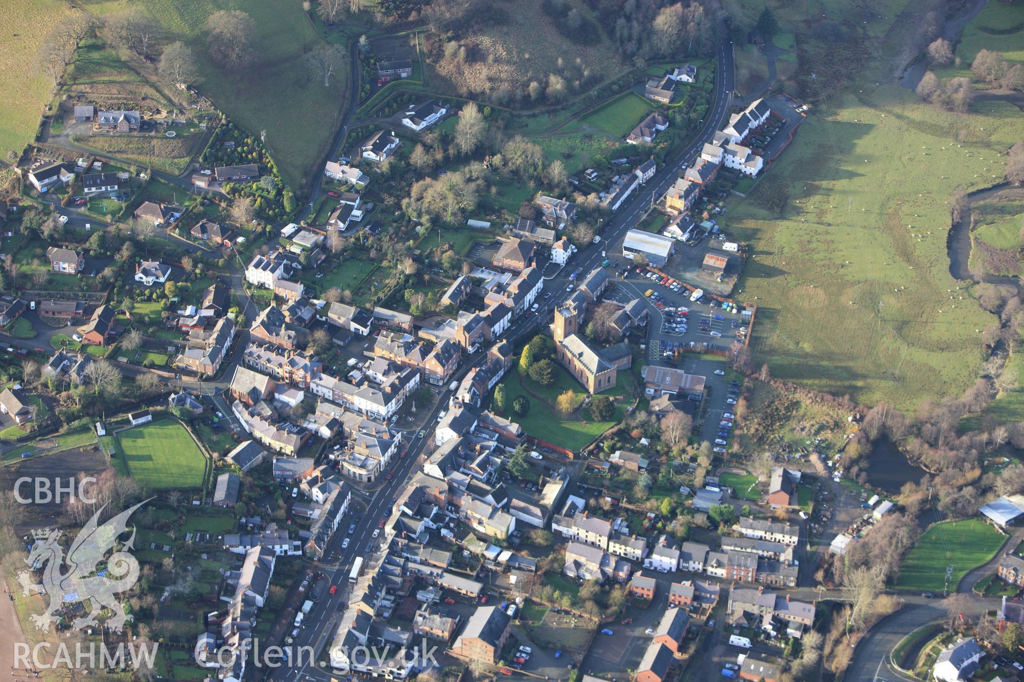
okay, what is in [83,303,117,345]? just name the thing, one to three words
house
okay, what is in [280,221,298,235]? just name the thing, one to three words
vehicle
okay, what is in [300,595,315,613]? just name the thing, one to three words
vehicle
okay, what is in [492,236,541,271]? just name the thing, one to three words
building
